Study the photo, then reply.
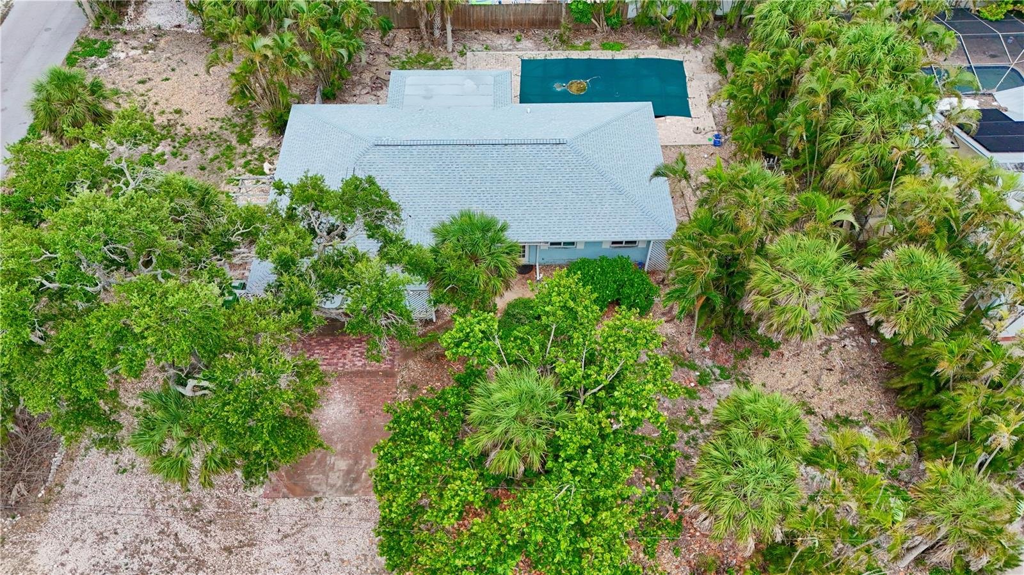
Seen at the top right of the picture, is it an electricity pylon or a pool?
pool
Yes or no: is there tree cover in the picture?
Yes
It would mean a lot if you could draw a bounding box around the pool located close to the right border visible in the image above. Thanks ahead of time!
[913,64,1024,97]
